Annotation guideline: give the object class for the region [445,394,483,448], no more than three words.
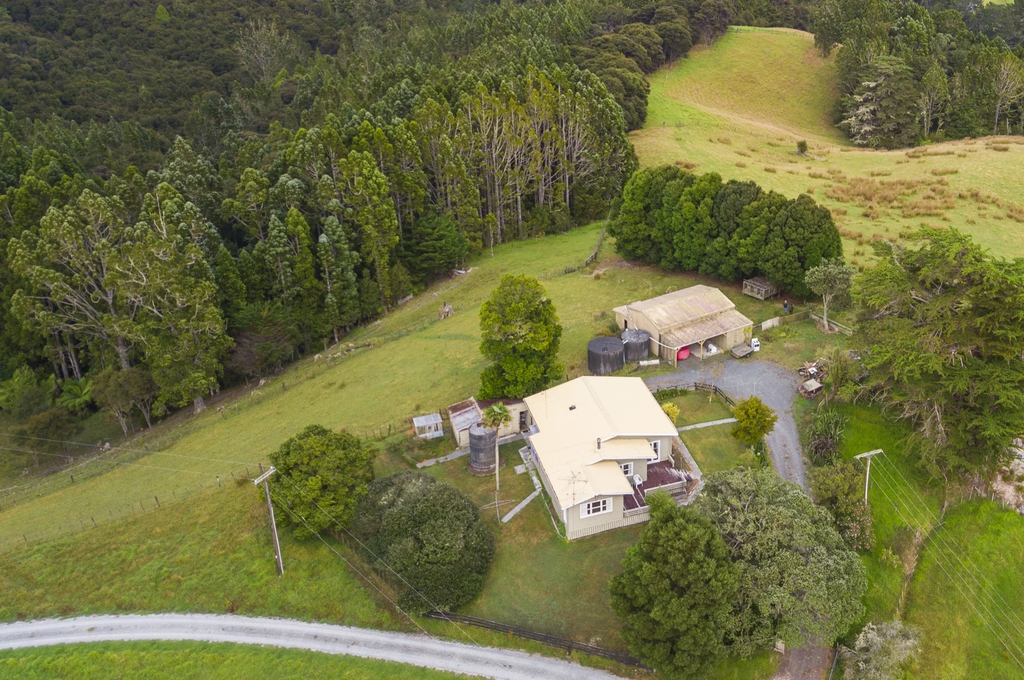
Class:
shed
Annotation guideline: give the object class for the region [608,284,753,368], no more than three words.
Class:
shed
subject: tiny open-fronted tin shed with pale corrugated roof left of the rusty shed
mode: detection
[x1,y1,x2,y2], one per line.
[412,415,445,444]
